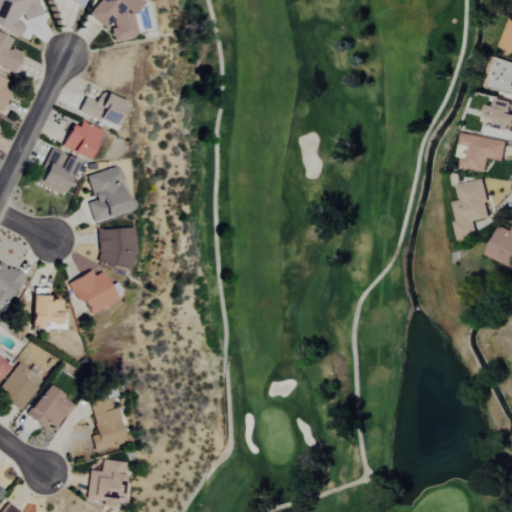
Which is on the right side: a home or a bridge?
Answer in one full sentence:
It is a home that can be seen on the right side.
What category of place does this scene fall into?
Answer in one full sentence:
This looks like a golf course.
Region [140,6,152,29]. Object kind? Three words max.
swimming pool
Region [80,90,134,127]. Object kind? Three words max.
house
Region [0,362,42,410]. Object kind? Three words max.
house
